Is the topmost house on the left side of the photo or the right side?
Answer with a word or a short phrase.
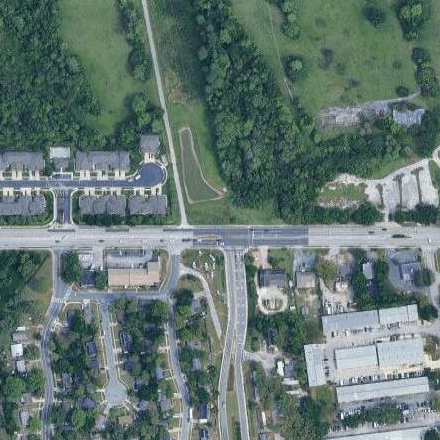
left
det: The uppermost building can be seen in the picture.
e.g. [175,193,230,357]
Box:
[140,134,160,155]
